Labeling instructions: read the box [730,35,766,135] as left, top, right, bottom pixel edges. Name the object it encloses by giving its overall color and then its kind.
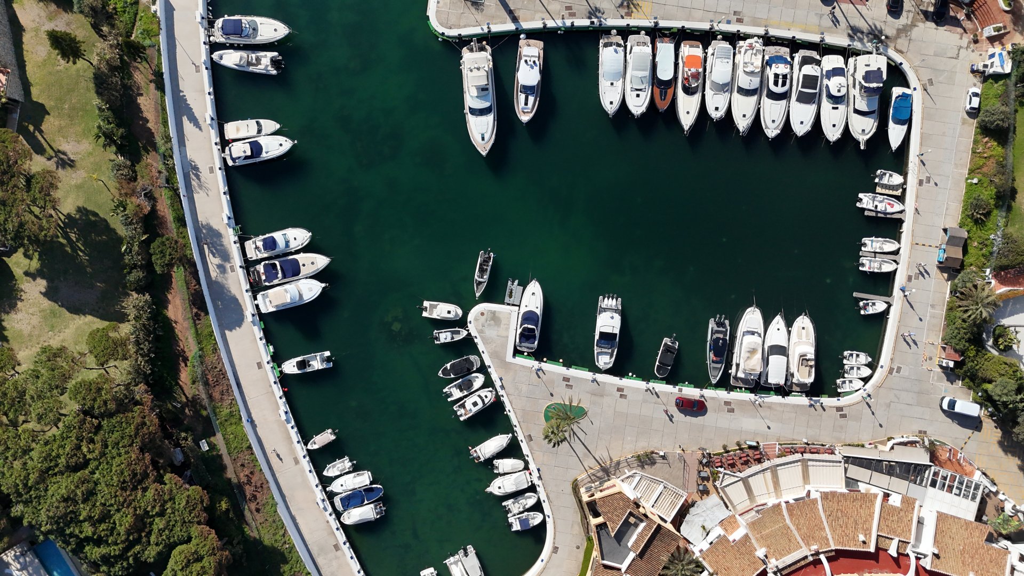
white boat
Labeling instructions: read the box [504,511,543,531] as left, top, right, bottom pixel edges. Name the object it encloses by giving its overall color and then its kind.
white boat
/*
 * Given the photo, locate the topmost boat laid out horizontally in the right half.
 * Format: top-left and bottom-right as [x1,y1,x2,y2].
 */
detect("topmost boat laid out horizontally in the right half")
[872,169,904,185]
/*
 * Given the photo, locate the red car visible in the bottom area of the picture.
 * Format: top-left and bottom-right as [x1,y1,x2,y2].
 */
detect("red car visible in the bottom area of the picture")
[674,395,708,413]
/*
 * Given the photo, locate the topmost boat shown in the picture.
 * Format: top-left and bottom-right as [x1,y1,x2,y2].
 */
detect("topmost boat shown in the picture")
[207,16,293,47]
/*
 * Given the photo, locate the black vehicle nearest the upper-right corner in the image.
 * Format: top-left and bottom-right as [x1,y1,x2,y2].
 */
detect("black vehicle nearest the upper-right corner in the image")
[931,0,952,25]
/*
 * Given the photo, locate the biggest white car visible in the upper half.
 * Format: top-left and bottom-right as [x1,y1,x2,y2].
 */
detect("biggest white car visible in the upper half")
[963,87,984,114]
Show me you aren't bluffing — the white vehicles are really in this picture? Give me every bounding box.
[963,87,984,114]
[939,397,988,419]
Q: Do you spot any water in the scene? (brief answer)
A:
Yes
